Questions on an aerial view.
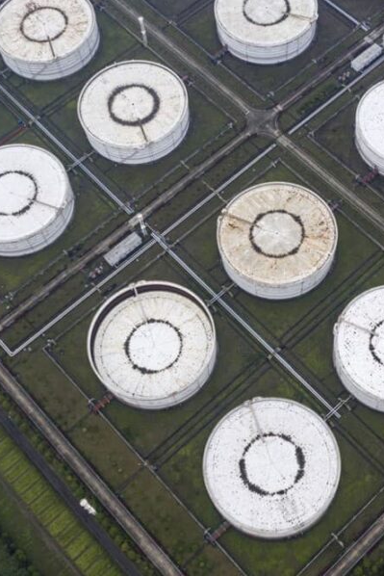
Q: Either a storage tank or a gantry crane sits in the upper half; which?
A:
storage tank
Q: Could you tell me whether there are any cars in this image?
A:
No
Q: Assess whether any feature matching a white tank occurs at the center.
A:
Yes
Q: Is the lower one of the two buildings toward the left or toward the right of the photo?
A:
left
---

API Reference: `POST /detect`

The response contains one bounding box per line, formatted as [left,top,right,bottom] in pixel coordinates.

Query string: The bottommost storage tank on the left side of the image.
[85,279,219,411]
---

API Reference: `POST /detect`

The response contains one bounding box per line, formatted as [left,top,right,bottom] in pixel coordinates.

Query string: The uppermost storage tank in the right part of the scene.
[213,0,322,66]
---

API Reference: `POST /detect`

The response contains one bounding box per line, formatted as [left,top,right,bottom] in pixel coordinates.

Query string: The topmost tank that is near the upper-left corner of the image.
[0,0,102,81]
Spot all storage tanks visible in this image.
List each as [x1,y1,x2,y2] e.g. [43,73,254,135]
[0,0,102,81]
[75,58,192,167]
[0,143,77,259]
[213,0,322,66]
[202,395,343,543]
[331,283,384,414]
[352,79,384,178]
[215,180,339,302]
[85,279,219,411]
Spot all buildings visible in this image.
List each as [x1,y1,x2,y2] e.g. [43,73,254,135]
[103,229,144,265]
[350,39,384,70]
